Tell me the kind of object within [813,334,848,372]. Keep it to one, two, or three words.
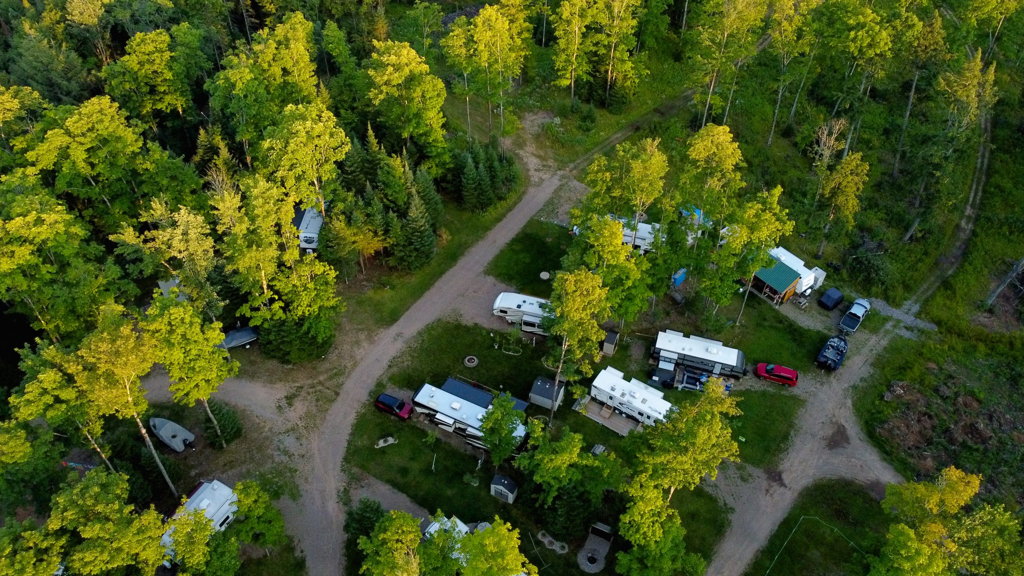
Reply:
boat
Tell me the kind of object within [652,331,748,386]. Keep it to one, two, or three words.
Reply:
trailer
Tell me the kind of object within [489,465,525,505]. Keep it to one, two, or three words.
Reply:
shed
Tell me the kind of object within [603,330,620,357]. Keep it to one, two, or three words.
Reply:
shed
